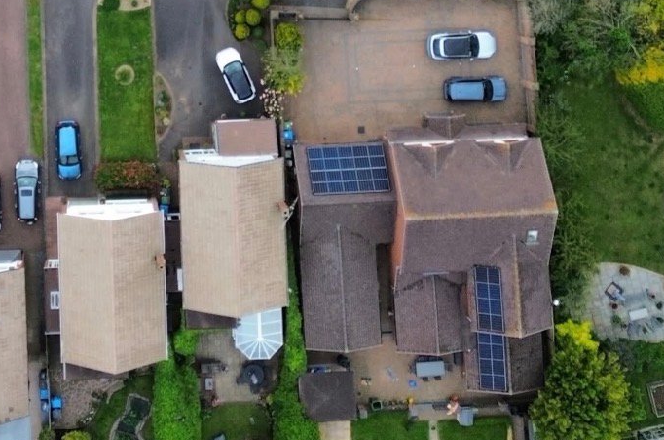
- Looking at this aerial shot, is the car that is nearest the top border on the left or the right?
right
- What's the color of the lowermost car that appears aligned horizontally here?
blue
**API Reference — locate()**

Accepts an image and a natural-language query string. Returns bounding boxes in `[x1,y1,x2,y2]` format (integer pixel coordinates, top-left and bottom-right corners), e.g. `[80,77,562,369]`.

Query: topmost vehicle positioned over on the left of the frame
[218,45,255,106]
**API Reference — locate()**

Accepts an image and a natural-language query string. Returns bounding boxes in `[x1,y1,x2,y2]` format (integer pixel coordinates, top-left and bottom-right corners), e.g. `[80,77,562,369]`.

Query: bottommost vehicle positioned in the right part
[442,74,507,106]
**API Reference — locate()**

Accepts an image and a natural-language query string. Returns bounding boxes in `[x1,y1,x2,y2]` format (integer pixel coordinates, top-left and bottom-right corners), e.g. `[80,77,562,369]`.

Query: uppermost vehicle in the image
[425,29,495,63]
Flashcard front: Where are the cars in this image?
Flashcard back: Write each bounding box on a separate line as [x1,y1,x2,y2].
[10,159,42,224]
[53,119,85,179]
[442,74,507,106]
[218,45,255,106]
[425,29,495,63]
